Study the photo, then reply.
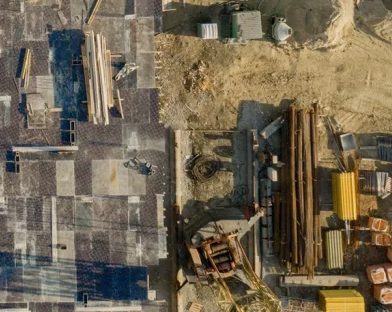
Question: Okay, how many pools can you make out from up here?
0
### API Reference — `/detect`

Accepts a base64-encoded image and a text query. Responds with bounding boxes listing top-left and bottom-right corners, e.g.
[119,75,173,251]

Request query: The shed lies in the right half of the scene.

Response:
[228,10,261,39]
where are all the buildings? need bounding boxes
[228,10,261,39]
[0,0,170,312]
